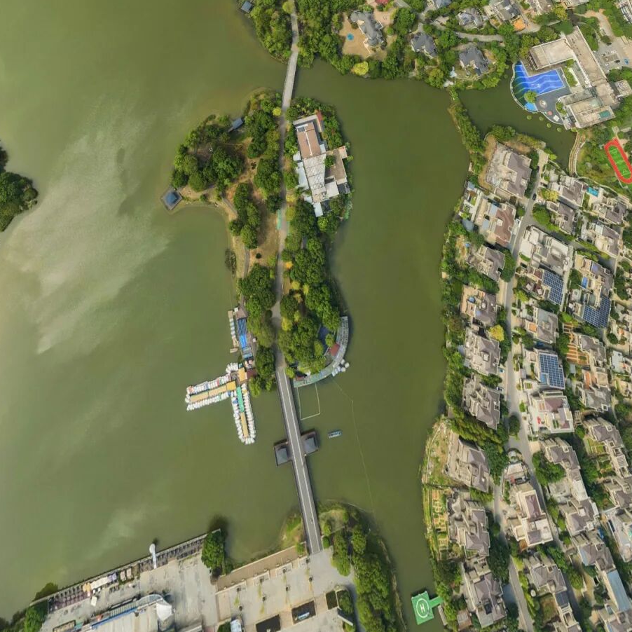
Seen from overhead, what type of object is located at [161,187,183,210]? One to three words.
gazebo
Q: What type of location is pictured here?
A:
residential area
